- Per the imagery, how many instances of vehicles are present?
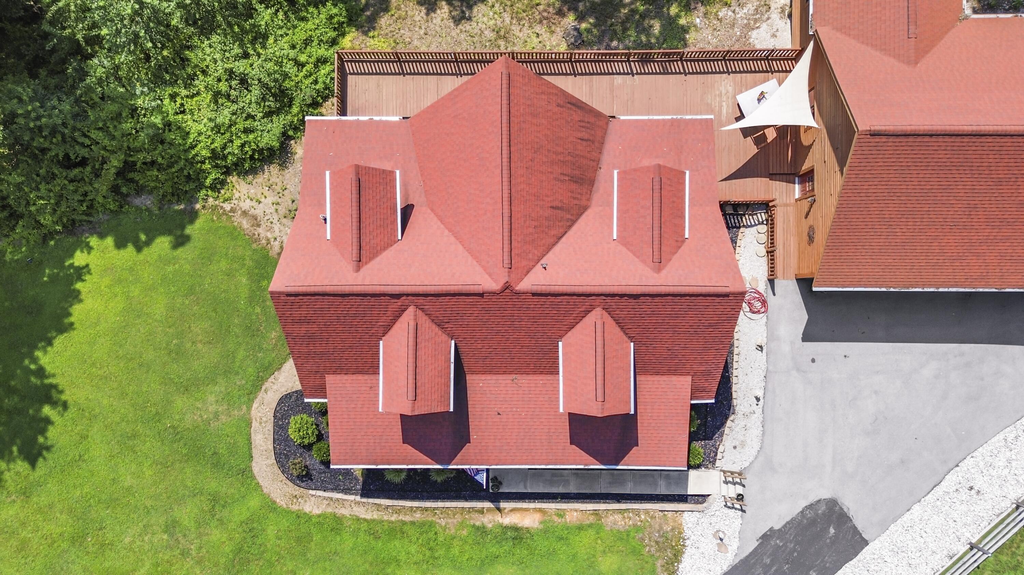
0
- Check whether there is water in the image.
No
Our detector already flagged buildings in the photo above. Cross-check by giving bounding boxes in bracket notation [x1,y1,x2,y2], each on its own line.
[269,54,748,470]
[793,0,1024,291]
